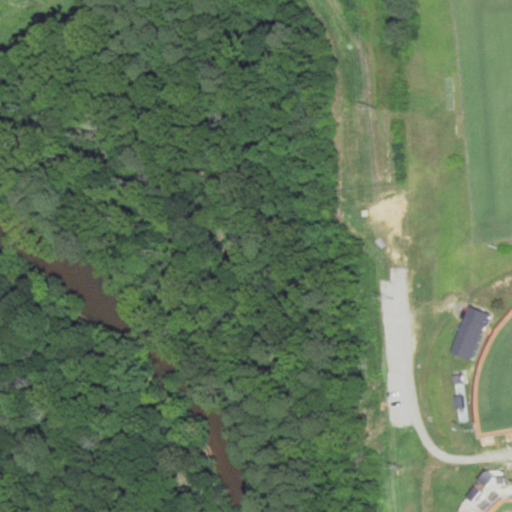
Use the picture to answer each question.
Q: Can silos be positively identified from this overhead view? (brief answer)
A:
No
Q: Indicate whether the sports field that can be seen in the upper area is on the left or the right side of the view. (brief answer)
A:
right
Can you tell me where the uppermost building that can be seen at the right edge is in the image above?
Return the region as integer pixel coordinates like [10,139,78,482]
[450,305,490,360]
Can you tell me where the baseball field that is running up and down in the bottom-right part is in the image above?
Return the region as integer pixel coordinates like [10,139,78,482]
[473,308,512,438]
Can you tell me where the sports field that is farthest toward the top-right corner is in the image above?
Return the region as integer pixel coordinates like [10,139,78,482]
[453,0,512,243]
